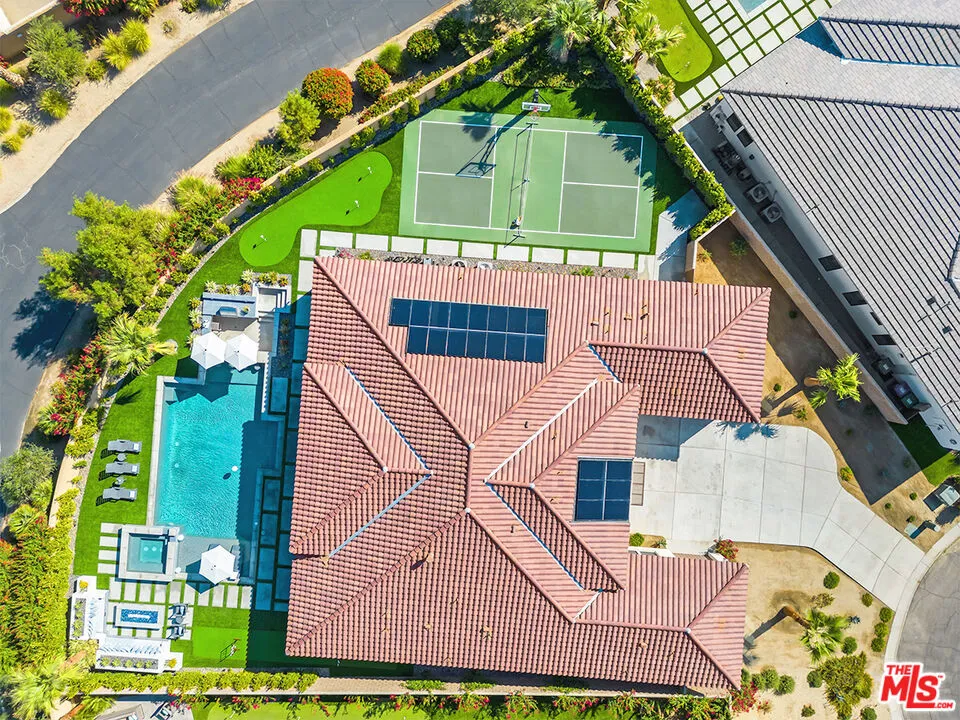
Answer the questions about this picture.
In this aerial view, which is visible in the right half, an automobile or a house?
house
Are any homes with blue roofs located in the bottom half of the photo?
No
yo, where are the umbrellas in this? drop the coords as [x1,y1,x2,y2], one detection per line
[202,545,236,583]
[191,330,227,369]
[225,332,261,370]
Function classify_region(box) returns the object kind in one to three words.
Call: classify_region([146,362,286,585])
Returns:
swimming pool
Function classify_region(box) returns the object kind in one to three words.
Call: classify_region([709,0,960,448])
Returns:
house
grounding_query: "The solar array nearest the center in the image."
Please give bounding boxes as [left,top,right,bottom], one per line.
[390,298,548,365]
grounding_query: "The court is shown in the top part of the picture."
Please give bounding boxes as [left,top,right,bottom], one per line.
[399,109,657,251]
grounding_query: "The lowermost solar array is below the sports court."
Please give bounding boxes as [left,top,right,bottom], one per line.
[574,459,632,520]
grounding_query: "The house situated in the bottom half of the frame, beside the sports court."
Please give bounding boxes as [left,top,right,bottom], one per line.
[283,255,772,693]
